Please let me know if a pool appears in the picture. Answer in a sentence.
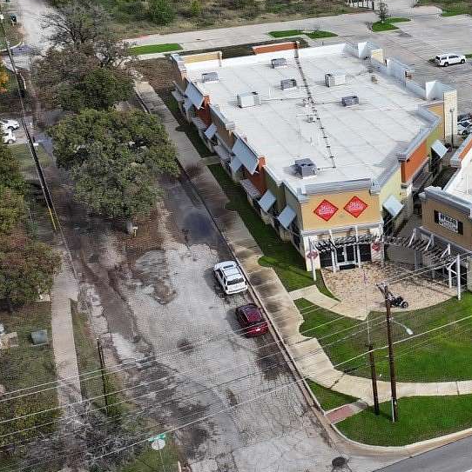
No, there isn't any pool down there.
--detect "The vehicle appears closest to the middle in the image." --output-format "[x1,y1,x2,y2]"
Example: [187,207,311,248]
[214,262,248,294]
